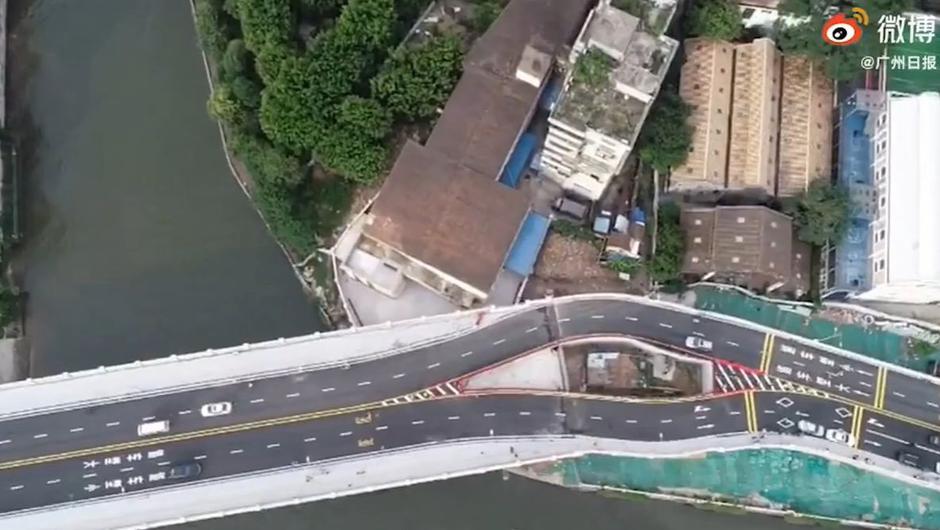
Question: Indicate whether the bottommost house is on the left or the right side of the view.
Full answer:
You can find the bottommost house on the right side of the picture.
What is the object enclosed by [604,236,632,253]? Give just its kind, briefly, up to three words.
shed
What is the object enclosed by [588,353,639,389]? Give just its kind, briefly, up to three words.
house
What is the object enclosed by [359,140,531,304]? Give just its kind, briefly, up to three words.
building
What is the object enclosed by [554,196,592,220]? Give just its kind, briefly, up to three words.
truck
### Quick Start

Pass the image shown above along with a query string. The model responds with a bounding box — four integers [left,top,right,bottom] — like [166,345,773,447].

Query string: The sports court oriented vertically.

[838,96,873,292]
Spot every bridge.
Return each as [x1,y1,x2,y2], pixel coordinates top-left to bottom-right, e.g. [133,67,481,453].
[0,293,940,530]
